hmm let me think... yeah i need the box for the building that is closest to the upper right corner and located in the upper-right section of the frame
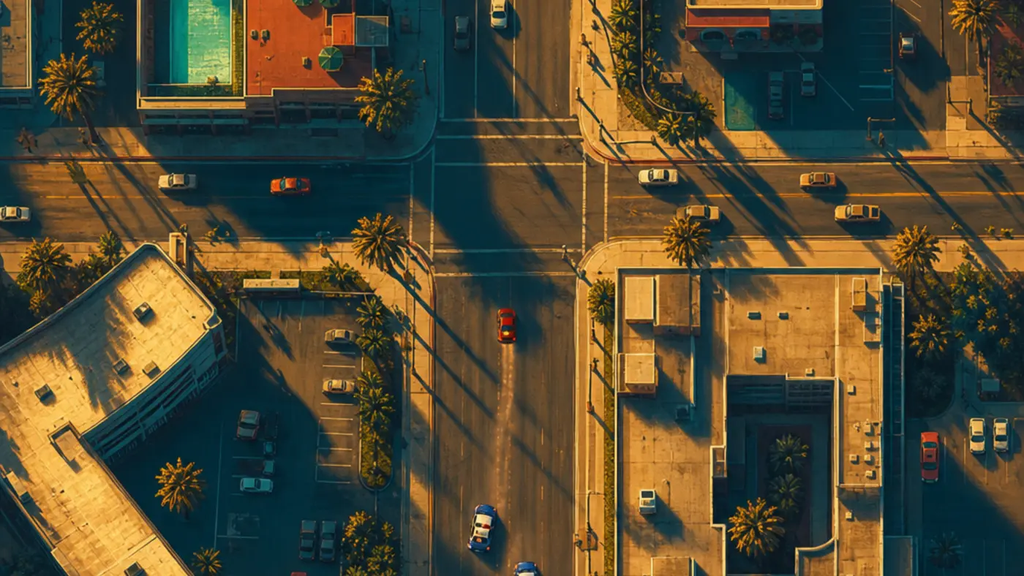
[682,0,825,59]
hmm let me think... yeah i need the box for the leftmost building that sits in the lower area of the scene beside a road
[0,242,233,576]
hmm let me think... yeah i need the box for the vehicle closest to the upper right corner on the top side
[899,33,917,57]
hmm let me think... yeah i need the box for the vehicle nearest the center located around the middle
[498,308,516,345]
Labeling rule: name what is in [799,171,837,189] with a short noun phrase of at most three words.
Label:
car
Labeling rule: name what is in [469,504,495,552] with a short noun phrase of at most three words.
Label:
car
